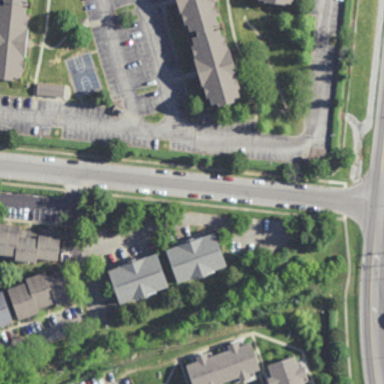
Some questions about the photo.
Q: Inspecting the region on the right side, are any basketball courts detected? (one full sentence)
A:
No, there's no basketball court to be seen on the right side.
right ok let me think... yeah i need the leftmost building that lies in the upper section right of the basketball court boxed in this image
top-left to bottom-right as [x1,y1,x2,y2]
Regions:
[177,0,240,110]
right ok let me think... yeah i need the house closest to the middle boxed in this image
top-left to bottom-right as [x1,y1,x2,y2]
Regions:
[168,235,225,282]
